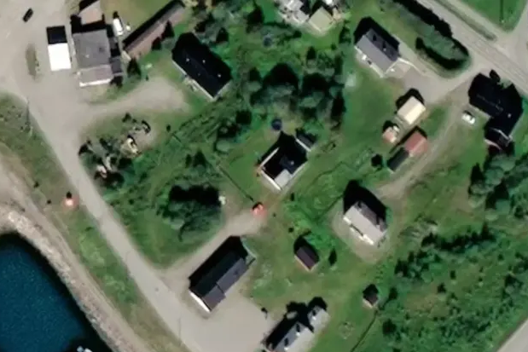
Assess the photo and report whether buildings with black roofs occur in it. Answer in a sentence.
Yes, there's a building with a black roof here.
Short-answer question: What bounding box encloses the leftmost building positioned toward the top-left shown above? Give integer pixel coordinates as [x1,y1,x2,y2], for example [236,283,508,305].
[46,43,71,76]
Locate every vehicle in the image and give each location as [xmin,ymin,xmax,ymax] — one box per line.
[112,19,121,36]
[22,9,32,21]
[463,113,474,123]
